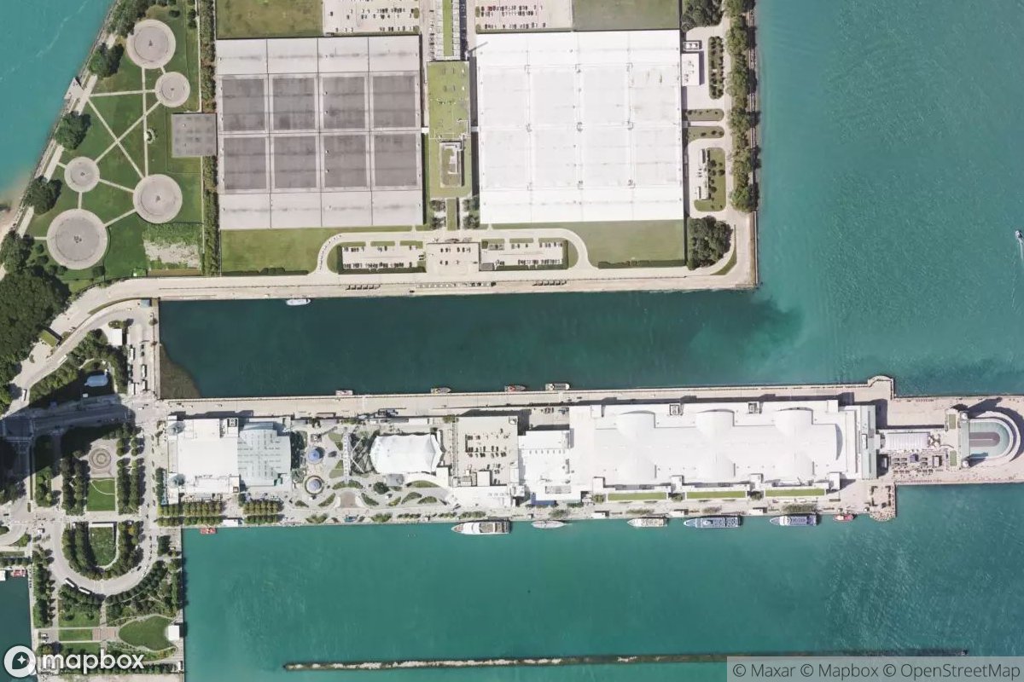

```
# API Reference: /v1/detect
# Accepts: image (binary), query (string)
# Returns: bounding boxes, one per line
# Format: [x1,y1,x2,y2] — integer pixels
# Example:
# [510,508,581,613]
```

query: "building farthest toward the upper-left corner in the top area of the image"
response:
[171,112,216,157]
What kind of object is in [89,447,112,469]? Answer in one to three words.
fountain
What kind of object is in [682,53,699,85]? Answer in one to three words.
building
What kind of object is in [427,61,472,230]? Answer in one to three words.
building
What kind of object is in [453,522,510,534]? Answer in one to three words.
boat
